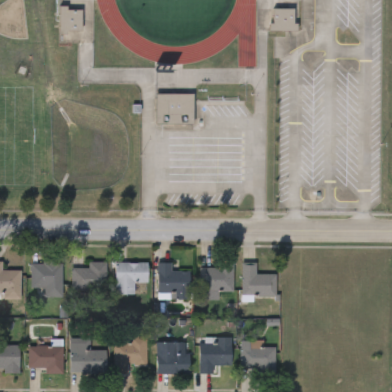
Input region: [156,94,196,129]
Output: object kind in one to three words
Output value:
building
